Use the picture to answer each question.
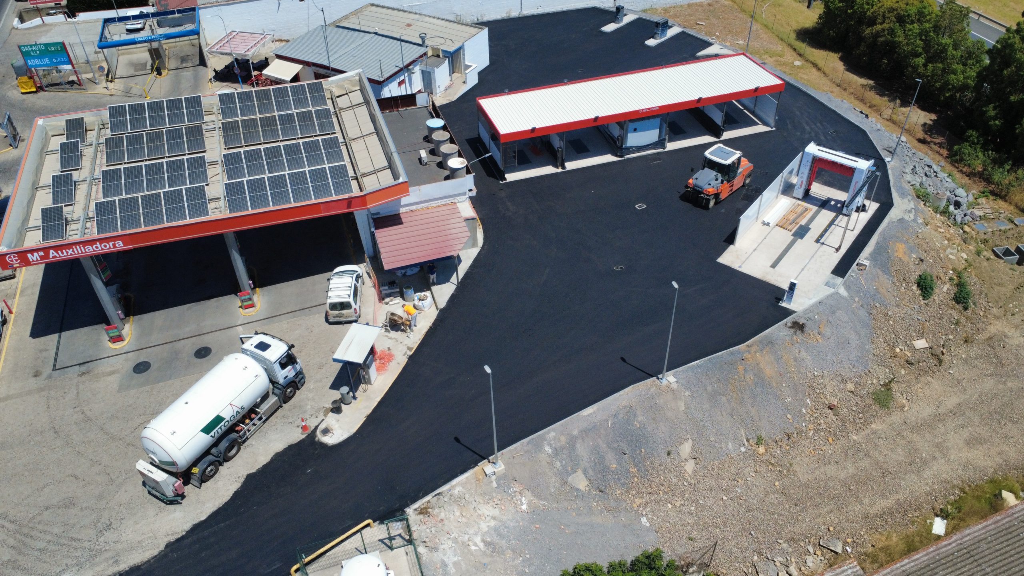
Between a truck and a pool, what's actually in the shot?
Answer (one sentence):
The image shows a truck.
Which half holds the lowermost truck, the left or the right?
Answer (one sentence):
You can find the lowermost truck on the left side of the picture.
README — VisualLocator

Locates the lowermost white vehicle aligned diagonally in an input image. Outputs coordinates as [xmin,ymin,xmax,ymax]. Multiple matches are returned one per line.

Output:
[134,334,306,509]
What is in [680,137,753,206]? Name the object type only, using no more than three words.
work vehicle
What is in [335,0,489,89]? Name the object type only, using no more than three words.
building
